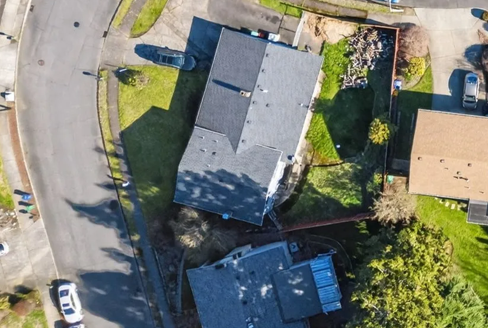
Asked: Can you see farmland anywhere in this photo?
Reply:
No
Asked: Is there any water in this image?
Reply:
No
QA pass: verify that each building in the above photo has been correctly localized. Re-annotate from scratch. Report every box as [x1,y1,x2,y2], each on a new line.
[409,108,488,225]
[173,23,326,228]
[186,232,322,328]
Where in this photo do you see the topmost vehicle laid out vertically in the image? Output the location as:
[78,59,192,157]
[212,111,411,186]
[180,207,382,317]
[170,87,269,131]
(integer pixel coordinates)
[461,70,480,111]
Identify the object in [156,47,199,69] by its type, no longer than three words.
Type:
car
